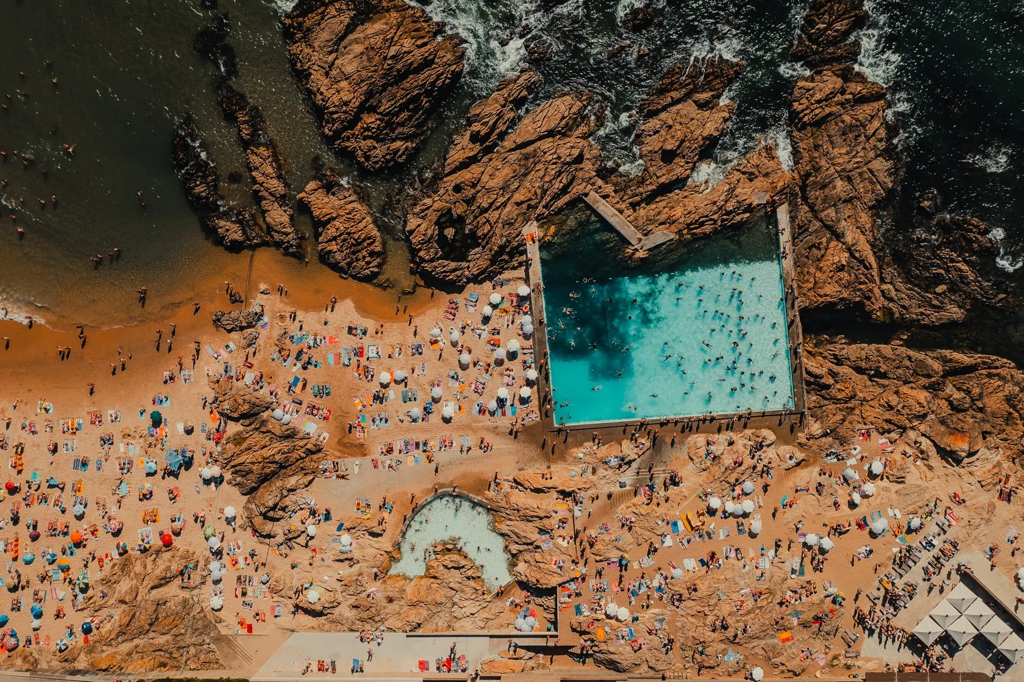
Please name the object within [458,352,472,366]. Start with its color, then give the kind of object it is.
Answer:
white umbrella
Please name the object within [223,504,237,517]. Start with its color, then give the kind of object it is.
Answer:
white umbrella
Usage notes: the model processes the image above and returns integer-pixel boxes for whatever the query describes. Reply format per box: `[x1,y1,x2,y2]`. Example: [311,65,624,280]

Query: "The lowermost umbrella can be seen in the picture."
[750,666,764,679]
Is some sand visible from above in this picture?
Yes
